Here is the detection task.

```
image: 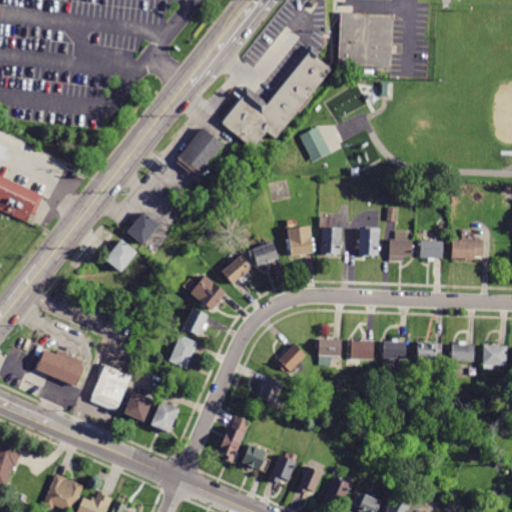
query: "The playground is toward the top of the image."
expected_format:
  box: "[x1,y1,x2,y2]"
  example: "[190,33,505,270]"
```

[342,131,382,167]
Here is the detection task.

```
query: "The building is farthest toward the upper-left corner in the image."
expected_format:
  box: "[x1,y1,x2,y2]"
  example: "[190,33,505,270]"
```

[0,176,42,222]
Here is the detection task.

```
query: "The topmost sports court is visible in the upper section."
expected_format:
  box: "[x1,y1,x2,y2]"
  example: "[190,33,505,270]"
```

[325,86,367,124]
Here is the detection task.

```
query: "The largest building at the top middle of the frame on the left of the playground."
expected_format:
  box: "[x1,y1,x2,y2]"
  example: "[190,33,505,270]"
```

[223,54,331,146]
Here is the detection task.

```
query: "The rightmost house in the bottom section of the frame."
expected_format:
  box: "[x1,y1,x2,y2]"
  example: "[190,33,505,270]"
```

[484,345,508,370]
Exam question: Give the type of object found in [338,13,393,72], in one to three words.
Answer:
building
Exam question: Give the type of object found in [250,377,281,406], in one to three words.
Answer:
house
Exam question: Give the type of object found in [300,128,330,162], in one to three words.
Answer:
shed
